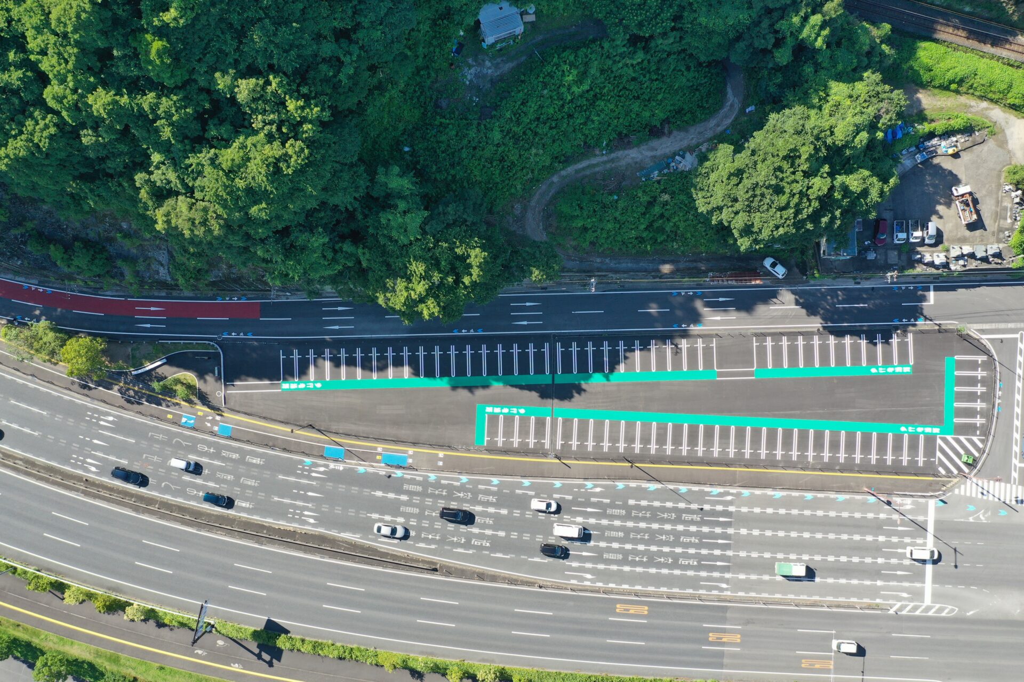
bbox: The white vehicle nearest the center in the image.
[531,498,557,513]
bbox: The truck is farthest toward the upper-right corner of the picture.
[950,185,978,224]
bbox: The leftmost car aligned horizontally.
[110,466,143,483]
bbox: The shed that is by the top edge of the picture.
[479,1,524,42]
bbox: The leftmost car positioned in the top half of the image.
[762,256,787,280]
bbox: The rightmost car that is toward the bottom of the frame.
[906,547,936,561]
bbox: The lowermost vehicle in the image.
[832,639,856,653]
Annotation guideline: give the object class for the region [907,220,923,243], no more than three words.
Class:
vehicle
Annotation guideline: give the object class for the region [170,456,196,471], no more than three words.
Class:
car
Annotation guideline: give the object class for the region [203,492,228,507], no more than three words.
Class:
car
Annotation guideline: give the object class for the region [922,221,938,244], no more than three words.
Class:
vehicle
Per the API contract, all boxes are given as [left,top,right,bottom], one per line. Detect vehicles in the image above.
[906,547,936,561]
[950,185,978,224]
[203,492,228,507]
[440,507,470,524]
[170,456,196,471]
[892,222,907,244]
[776,562,804,578]
[554,523,582,539]
[110,466,143,483]
[531,498,557,513]
[922,221,938,244]
[907,220,923,243]
[374,522,405,538]
[541,543,565,558]
[762,256,787,280]
[832,639,856,653]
